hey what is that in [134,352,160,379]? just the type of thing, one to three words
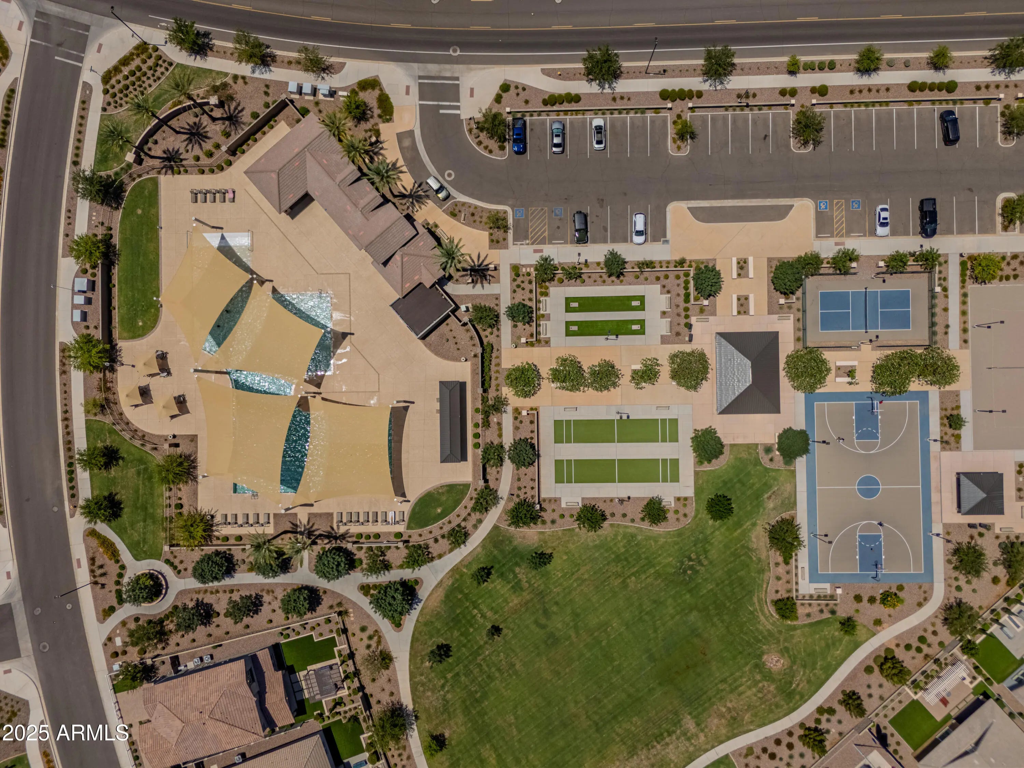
umbrella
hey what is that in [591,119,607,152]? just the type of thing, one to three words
car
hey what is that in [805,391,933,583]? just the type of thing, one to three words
basketball court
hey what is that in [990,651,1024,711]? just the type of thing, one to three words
house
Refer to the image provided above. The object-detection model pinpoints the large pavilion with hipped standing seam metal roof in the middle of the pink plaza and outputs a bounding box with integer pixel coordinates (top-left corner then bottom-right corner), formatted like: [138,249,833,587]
[712,331,781,414]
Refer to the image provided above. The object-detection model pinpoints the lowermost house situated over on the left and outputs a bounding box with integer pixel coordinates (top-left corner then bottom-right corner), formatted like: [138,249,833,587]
[249,729,343,768]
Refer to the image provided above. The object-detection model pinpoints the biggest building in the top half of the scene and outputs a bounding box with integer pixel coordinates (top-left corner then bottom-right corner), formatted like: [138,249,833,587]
[243,112,445,298]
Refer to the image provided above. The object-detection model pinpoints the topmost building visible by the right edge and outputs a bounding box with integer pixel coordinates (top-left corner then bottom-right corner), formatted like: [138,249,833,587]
[950,472,1005,515]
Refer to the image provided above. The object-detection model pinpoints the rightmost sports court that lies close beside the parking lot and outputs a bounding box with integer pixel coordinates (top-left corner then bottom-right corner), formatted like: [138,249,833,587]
[968,284,1024,451]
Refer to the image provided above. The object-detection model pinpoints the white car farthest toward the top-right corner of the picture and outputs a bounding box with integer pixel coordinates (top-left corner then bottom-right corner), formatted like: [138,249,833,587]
[872,204,892,238]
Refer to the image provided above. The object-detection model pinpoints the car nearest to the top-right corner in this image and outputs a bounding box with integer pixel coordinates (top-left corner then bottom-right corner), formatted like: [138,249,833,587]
[938,110,961,147]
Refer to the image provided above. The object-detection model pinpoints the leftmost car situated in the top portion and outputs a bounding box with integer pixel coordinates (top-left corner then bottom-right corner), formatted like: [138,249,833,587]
[425,172,452,203]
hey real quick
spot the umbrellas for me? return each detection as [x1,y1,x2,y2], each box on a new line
[134,352,160,379]
[151,394,179,419]
[117,383,142,408]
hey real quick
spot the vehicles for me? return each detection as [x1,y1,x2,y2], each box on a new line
[425,172,452,203]
[550,122,566,155]
[573,210,589,244]
[872,204,892,238]
[938,110,961,147]
[917,197,940,239]
[631,213,647,246]
[591,119,607,152]
[511,117,528,156]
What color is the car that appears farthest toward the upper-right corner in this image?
black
